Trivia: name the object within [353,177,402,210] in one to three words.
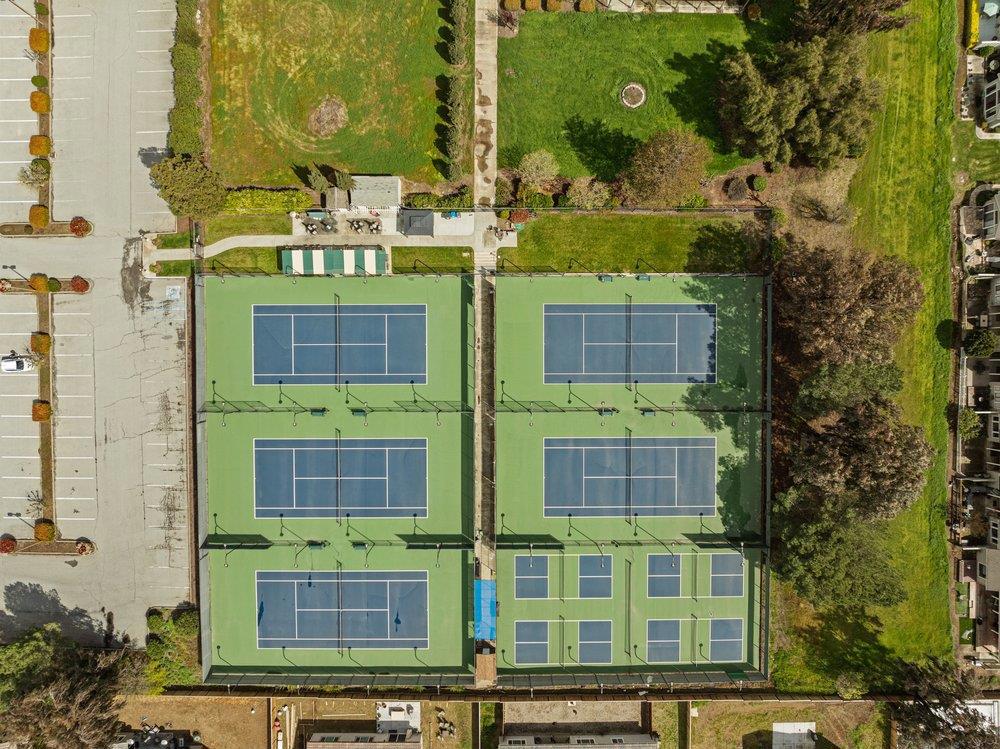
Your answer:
shed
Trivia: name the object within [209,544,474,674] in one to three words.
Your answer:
tennis court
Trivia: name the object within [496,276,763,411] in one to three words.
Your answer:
tennis court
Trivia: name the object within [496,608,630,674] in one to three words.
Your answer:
sports court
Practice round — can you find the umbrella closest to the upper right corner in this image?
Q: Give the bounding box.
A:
[981,1,996,17]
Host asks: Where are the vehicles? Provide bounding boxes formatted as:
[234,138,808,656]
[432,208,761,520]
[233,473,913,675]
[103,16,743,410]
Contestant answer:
[1,356,34,373]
